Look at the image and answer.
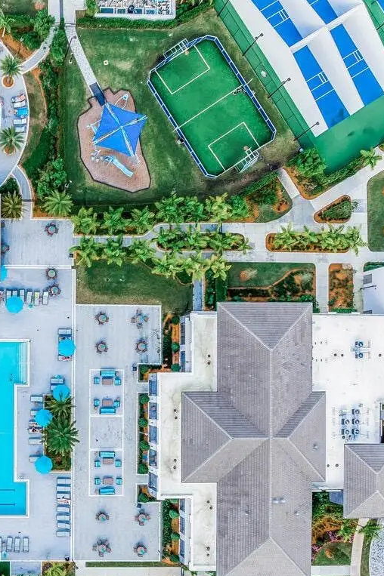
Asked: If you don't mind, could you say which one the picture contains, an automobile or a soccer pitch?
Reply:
soccer pitch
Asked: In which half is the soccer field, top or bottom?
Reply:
top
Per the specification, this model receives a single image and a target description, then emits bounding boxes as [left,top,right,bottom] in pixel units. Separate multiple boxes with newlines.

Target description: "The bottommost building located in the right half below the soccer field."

[148,302,384,576]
